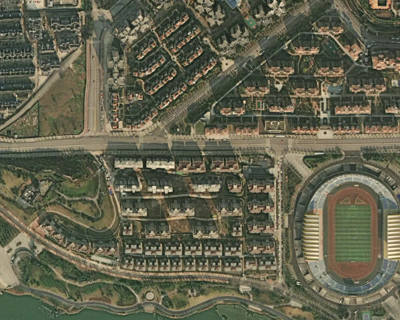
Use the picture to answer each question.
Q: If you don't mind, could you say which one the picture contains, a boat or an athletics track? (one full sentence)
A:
Looking from above, you can make out an athletics track.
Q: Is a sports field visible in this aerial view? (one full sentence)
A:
Yes, a sports field appears in the view.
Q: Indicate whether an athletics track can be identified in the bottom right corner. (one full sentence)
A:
Yes, an athletics track appears in the bottom right corner.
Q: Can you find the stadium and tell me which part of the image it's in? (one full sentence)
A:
The stadium sits in the bottom right section of the image.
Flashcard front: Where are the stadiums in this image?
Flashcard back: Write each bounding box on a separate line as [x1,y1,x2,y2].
[288,156,400,312]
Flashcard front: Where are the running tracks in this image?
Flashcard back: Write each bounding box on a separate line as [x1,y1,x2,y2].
[329,188,377,280]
